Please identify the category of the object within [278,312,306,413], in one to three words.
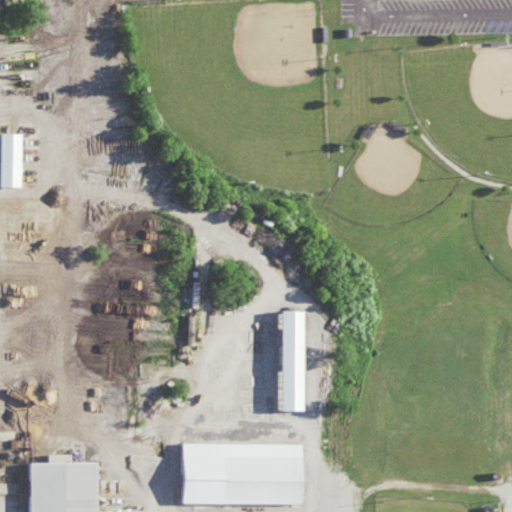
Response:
shed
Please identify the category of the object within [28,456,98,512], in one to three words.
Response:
shed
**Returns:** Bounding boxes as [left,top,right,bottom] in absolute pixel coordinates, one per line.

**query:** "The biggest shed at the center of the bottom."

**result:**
[182,444,304,508]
